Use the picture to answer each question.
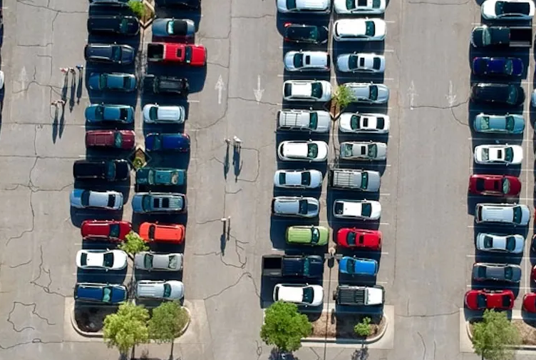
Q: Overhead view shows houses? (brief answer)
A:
No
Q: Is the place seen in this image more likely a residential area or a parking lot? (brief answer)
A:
parking lot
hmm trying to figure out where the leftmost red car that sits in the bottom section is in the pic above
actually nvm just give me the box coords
[81,218,133,243]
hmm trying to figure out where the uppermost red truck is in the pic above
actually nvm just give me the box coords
[147,41,206,67]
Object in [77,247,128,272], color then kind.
white car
